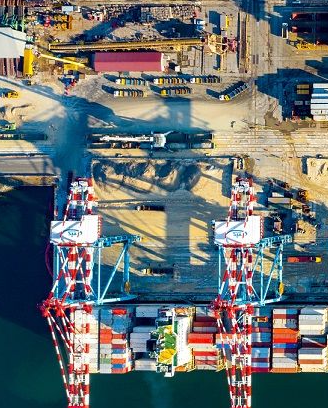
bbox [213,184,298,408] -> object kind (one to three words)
container crane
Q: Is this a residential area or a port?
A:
port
